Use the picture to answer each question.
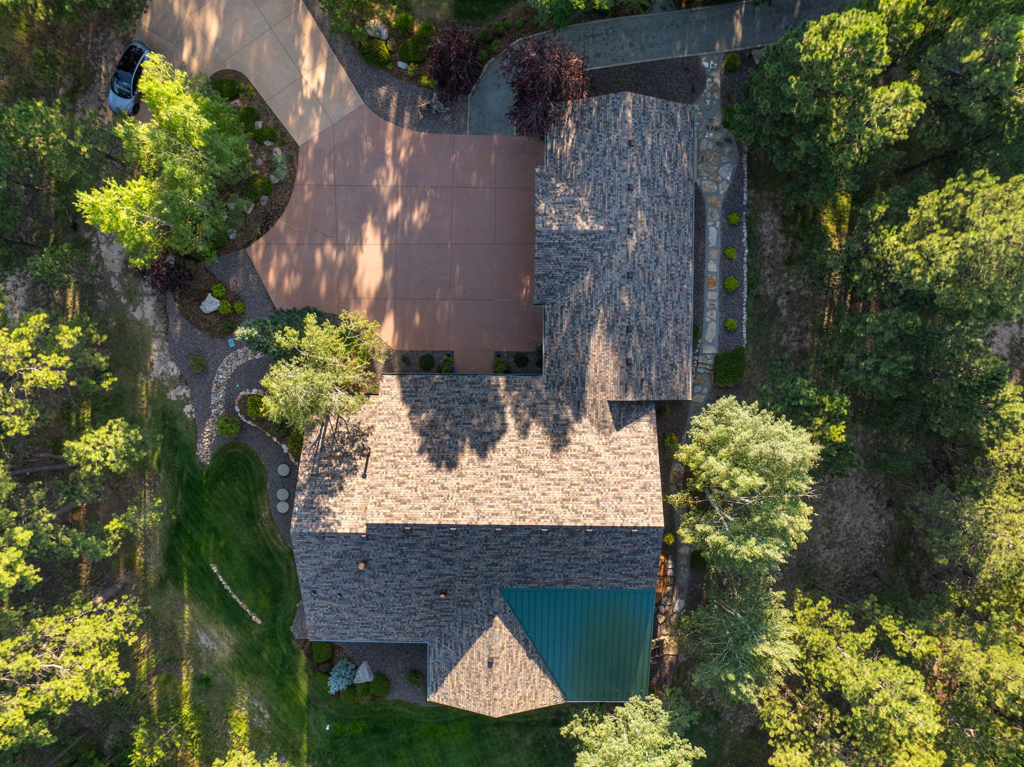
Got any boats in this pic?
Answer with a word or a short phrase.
No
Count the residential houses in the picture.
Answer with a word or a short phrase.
1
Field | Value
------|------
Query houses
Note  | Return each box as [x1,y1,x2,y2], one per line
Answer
[290,91,695,718]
